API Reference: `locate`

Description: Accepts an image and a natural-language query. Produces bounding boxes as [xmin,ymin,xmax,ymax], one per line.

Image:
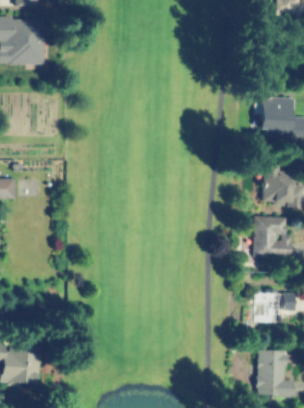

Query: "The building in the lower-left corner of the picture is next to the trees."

[0,338,40,386]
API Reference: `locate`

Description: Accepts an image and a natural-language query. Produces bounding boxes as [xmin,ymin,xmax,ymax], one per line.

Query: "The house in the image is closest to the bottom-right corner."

[258,350,296,397]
